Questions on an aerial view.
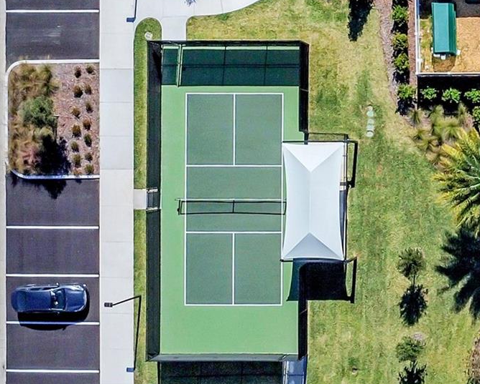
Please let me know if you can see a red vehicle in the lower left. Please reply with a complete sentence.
No, I see no red vehicle in the lower left.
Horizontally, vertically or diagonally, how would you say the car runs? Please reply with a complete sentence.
The car runs horizontally in the image.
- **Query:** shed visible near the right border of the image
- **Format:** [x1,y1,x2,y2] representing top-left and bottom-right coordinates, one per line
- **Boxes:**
[431,1,459,55]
